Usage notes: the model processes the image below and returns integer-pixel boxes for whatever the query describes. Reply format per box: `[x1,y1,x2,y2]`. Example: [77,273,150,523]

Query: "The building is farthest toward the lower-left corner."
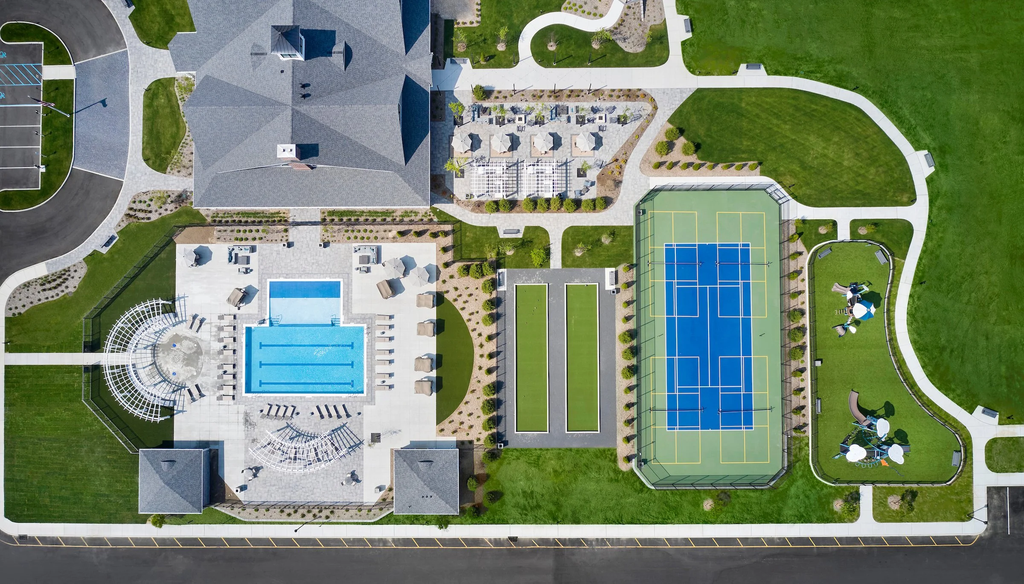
[139,447,209,514]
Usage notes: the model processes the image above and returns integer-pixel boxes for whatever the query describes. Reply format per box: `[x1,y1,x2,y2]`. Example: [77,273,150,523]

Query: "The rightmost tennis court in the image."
[633,189,784,487]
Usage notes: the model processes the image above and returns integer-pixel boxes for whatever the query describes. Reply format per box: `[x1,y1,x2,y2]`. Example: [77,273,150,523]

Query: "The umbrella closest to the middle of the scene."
[408,266,435,289]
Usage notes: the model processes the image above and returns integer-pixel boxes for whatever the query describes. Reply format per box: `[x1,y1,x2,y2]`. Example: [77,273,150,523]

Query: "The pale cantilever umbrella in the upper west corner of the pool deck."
[177,246,198,266]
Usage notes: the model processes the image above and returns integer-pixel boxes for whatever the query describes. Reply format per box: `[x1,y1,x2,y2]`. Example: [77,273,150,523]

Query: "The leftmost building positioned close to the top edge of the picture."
[166,0,436,209]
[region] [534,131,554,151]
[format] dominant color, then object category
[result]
white umbrella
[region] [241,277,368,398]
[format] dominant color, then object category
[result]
blue swimming pool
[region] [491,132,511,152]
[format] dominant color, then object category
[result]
white umbrella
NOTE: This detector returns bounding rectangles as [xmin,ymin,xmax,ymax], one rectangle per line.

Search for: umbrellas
[177,246,198,266]
[408,266,435,289]
[451,132,472,152]
[534,131,554,151]
[491,132,511,152]
[575,131,596,151]
[382,258,405,278]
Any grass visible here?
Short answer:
Yes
